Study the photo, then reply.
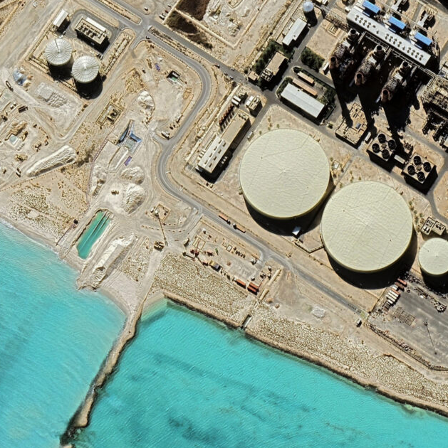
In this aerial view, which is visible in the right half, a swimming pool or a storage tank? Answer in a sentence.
Looking in the right half, you will find a storage tank.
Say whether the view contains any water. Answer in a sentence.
Yes, there is water in the image.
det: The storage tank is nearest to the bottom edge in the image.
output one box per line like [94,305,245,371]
[418,238,448,277]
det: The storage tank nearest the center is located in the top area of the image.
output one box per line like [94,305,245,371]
[239,128,329,220]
